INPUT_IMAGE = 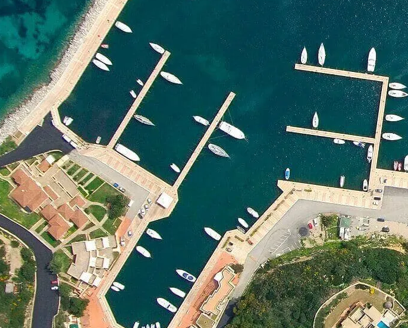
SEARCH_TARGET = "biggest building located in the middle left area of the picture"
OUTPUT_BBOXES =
[11,154,93,240]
